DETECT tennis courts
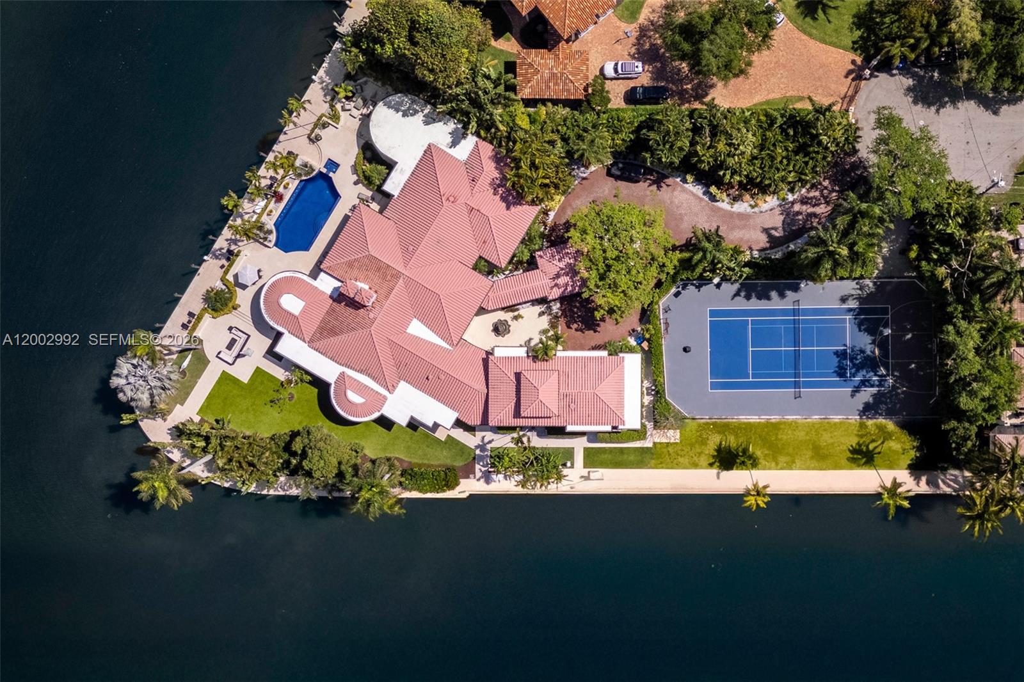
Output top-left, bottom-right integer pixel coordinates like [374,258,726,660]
[659,279,939,418]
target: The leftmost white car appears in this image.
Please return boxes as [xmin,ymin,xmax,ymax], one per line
[602,60,641,80]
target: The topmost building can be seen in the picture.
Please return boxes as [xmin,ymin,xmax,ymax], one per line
[512,0,617,105]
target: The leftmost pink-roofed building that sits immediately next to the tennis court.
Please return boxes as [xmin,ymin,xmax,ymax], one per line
[260,94,641,432]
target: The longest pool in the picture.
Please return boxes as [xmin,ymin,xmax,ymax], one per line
[271,155,344,255]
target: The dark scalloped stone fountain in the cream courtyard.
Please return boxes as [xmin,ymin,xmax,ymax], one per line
[491,318,511,337]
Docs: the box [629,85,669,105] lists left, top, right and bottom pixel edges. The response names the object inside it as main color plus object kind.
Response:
black car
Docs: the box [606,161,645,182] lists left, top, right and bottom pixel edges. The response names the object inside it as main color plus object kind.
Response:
black car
